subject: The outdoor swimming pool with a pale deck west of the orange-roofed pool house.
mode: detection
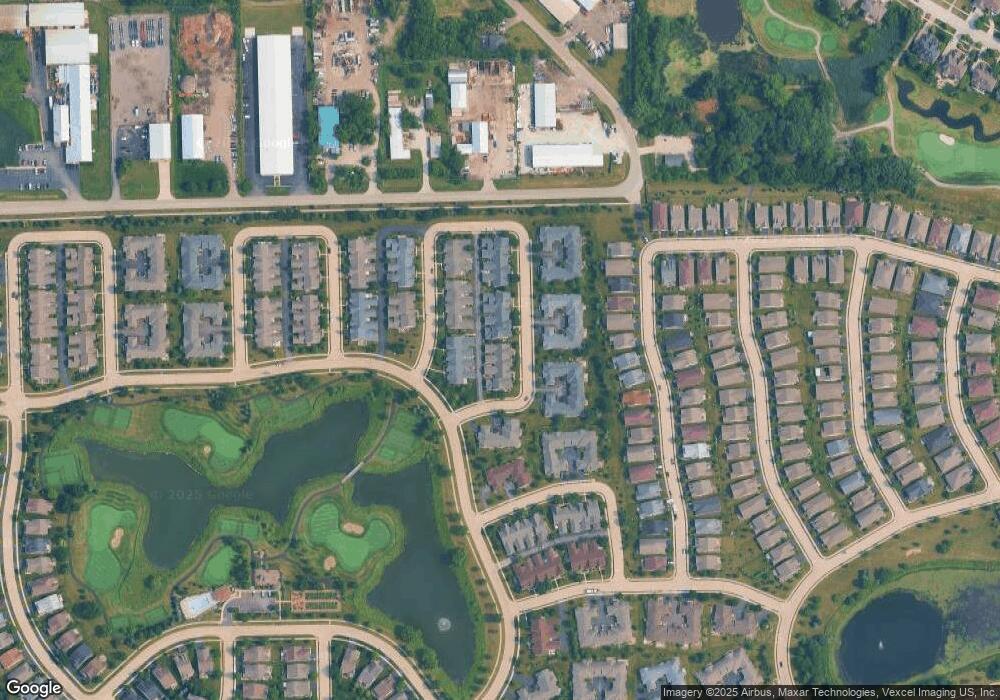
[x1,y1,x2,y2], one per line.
[182,593,215,619]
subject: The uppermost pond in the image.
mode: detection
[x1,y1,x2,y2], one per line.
[694,0,744,42]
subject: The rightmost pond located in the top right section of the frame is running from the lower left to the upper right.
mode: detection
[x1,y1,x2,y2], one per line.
[830,3,923,126]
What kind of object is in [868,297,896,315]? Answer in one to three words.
house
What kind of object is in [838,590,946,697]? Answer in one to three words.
pond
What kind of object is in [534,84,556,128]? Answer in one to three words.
building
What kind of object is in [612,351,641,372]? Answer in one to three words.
house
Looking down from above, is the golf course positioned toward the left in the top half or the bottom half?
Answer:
bottom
